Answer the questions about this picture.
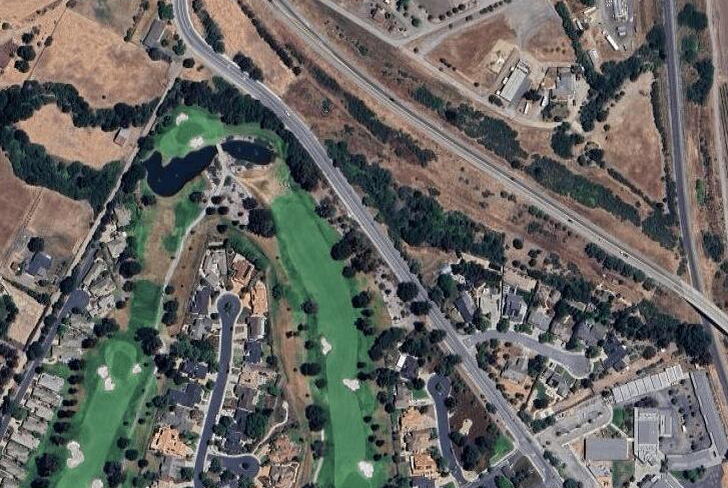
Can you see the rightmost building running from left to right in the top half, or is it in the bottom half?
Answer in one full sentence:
It is in the bottom half that the rightmost building running from left to right appears.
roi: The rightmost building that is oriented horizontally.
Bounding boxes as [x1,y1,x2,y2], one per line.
[665,450,721,469]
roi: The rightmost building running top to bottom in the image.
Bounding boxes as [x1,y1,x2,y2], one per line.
[694,372,728,456]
